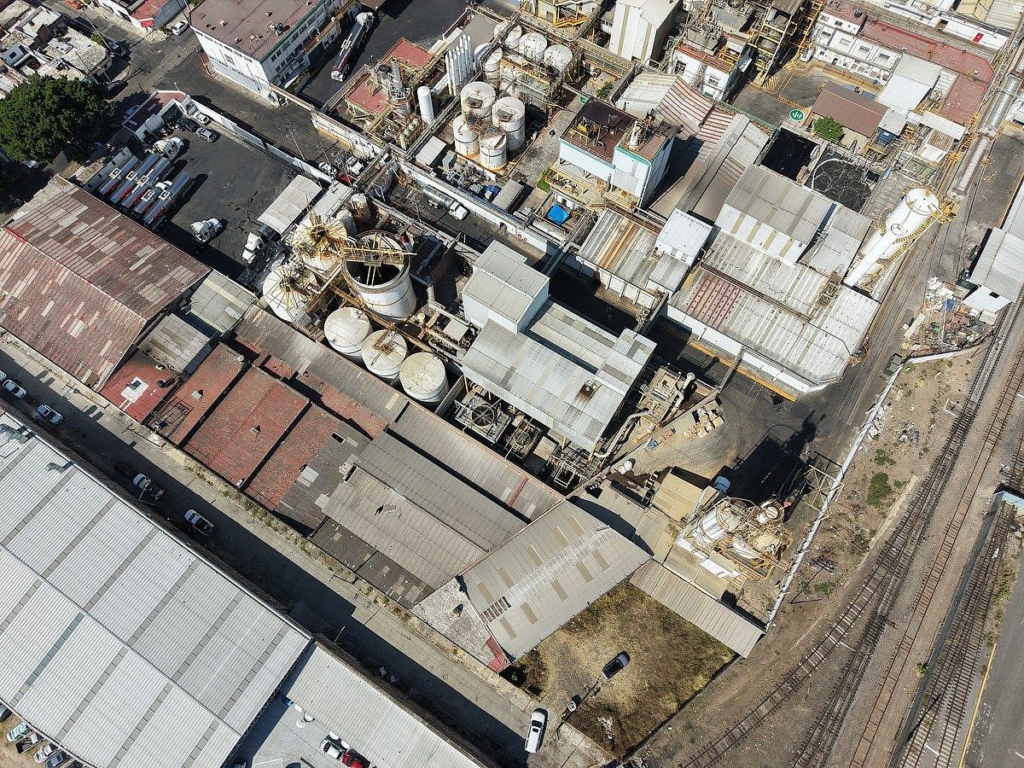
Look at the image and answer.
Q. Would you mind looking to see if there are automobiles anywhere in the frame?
Yes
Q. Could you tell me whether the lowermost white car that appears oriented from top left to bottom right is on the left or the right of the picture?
left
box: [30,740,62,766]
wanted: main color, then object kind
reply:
white car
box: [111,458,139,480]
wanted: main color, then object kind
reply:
black car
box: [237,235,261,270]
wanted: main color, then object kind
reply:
white truck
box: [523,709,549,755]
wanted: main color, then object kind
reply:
white car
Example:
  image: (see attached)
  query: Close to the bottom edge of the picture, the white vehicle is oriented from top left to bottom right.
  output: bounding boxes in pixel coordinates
[317,734,345,765]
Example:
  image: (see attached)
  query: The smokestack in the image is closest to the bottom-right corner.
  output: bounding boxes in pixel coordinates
[672,377,692,417]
